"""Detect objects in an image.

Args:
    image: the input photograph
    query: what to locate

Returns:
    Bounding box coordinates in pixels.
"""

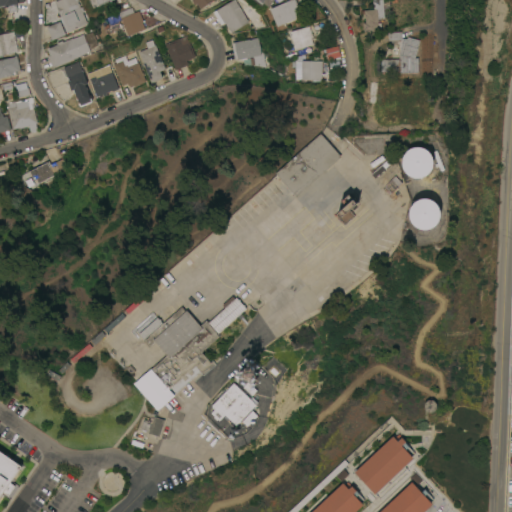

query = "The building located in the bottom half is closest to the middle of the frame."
[210,296,246,332]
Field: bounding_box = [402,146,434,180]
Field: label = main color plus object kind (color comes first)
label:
white storage tank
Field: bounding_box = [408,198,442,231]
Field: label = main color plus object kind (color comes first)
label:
white storage tank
